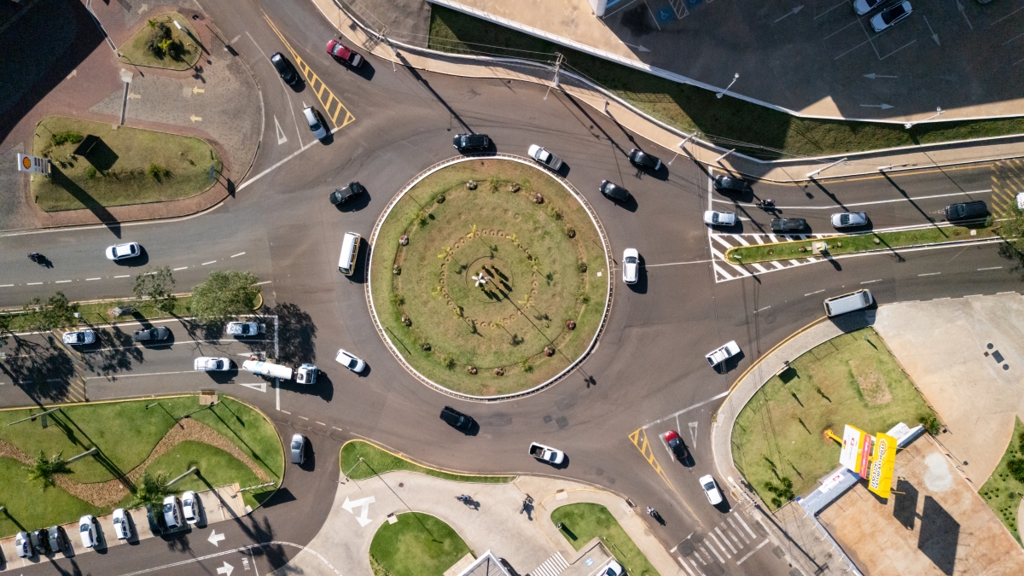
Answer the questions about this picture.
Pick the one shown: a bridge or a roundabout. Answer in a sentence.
Looking from above, you can make out a roundabout.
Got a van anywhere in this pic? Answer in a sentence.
Yes, the picture does show a van.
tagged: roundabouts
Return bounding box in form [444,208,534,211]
[366,153,615,402]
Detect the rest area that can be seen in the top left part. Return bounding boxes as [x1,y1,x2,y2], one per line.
[0,0,265,232]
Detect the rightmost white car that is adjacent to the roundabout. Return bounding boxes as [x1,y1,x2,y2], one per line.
[621,248,640,284]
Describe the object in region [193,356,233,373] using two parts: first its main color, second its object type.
white vehicle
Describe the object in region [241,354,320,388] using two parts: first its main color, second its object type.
white truck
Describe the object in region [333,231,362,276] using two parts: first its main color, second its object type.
white vehicle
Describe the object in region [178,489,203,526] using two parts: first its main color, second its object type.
white car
